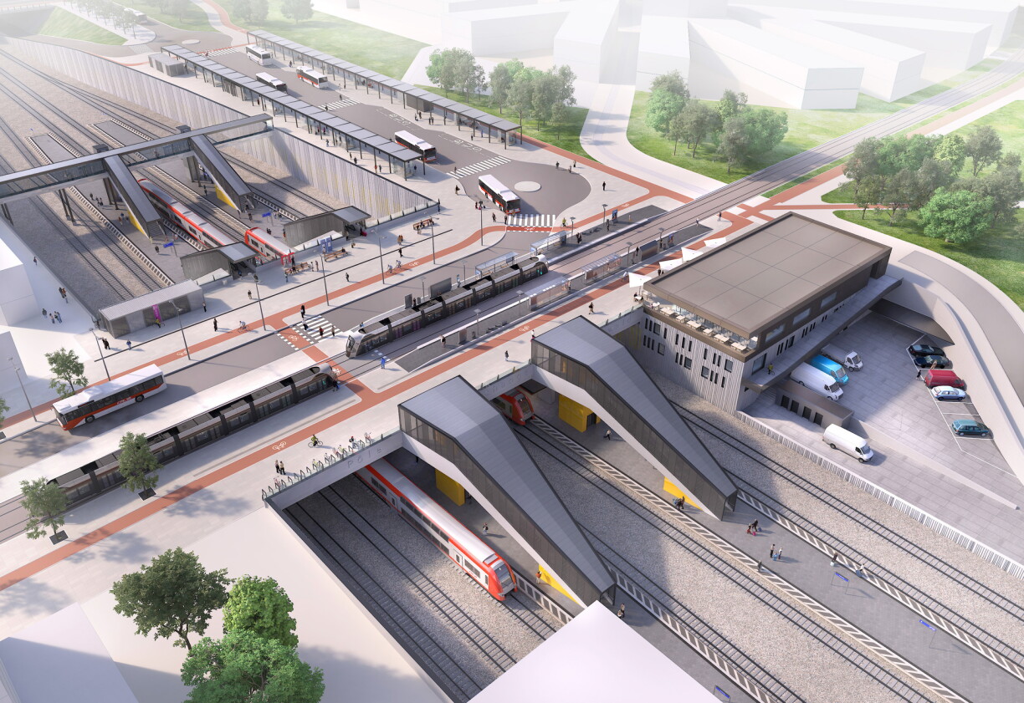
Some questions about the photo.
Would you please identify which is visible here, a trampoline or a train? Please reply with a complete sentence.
Of the two, only a train appears.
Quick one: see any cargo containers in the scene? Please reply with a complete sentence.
No, I can see no cargo container in this picture.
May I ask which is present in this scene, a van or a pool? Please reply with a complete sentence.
The one in the frame is a van.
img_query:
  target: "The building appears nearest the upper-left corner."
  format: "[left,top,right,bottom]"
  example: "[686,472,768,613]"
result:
[147,48,185,74]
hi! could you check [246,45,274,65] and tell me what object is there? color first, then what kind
white bus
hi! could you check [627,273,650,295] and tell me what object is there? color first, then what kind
white umbrella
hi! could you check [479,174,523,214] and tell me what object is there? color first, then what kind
white bus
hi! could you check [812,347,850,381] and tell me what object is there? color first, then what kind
blue van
